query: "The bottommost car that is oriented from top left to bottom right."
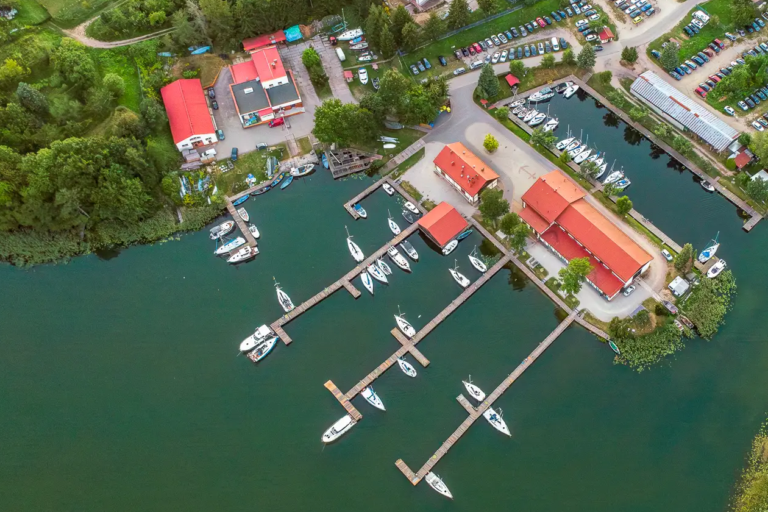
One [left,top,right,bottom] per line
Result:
[661,247,674,263]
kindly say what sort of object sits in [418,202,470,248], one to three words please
building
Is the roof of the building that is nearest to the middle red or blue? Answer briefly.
red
